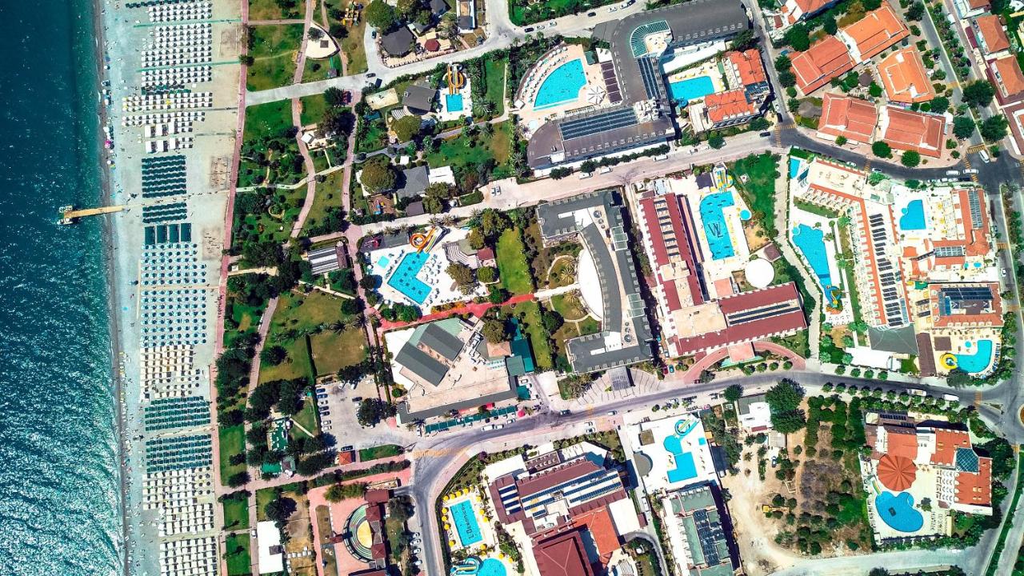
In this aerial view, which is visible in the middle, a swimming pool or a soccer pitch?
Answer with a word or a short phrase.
swimming pool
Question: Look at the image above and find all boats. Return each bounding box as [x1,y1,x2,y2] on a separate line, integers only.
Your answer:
[57,218,75,225]
[59,205,74,212]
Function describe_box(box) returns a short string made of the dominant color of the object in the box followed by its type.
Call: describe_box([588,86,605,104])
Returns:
white umbrella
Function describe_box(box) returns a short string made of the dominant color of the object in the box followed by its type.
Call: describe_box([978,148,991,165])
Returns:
white vehicle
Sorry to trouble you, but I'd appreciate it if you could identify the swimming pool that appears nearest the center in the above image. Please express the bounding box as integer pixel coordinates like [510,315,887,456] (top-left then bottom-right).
[387,252,435,305]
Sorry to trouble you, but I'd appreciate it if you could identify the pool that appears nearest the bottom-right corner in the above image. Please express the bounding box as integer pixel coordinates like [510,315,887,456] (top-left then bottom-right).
[875,491,924,533]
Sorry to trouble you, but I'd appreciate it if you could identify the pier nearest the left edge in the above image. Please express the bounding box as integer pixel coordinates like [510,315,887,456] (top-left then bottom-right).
[58,205,124,218]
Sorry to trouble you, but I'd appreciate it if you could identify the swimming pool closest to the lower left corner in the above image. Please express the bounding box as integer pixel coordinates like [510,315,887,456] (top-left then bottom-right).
[449,499,483,547]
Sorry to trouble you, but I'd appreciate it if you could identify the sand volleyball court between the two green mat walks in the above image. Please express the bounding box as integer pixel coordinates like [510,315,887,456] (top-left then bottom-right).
[218,28,237,58]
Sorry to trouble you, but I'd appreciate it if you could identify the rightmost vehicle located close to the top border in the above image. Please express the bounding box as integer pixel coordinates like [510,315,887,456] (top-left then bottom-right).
[945,9,958,26]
